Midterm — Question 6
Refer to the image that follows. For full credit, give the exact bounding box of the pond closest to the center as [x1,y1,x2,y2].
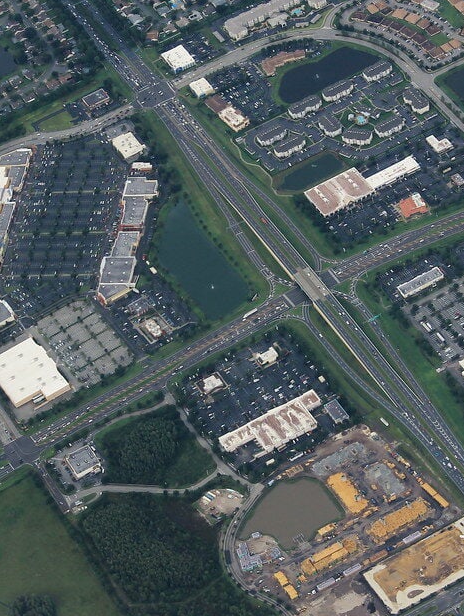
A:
[156,201,252,318]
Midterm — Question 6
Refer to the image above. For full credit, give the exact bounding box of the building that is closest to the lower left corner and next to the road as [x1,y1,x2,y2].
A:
[67,445,97,477]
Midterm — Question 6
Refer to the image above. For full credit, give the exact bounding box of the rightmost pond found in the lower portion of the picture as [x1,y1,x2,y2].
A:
[238,477,344,550]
